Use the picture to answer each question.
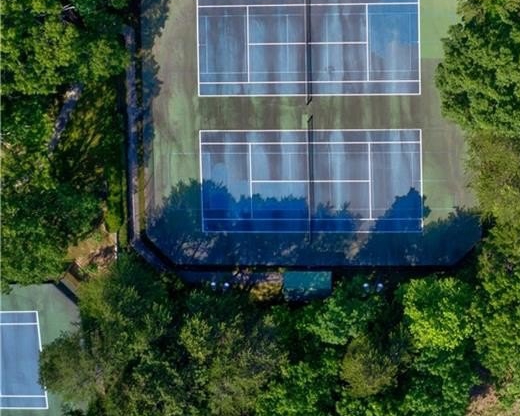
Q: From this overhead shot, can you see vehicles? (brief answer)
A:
No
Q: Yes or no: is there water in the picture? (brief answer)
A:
No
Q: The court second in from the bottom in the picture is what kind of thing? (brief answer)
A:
tennis court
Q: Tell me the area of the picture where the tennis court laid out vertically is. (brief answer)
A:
bottom left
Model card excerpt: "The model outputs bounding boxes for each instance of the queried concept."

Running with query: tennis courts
[0,311,47,409]
[197,0,421,97]
[200,129,423,233]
